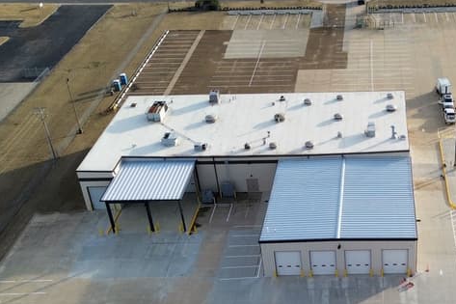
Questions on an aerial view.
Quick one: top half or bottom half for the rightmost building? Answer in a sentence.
It is in the bottom half that the rightmost building appears.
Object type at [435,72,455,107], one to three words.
vehicle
